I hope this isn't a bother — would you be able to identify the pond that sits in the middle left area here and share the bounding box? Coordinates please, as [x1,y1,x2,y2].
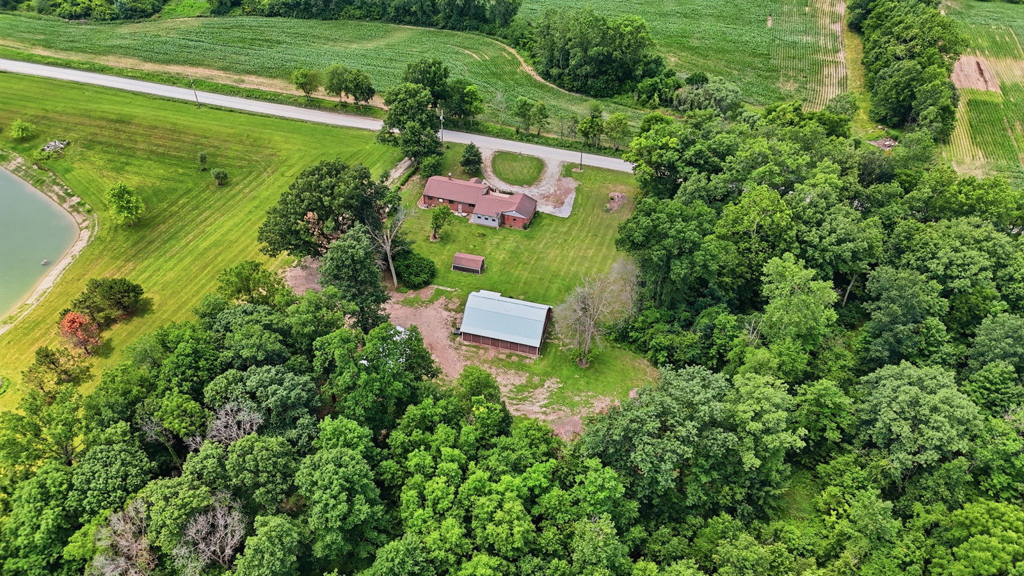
[0,165,80,320]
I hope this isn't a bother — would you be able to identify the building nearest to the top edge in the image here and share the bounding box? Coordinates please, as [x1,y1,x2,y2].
[421,175,540,228]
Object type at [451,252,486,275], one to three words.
shed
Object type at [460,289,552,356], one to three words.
barn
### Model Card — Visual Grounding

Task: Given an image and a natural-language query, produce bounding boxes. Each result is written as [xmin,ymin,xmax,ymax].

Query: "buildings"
[460,289,552,356]
[421,175,540,228]
[451,252,486,275]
